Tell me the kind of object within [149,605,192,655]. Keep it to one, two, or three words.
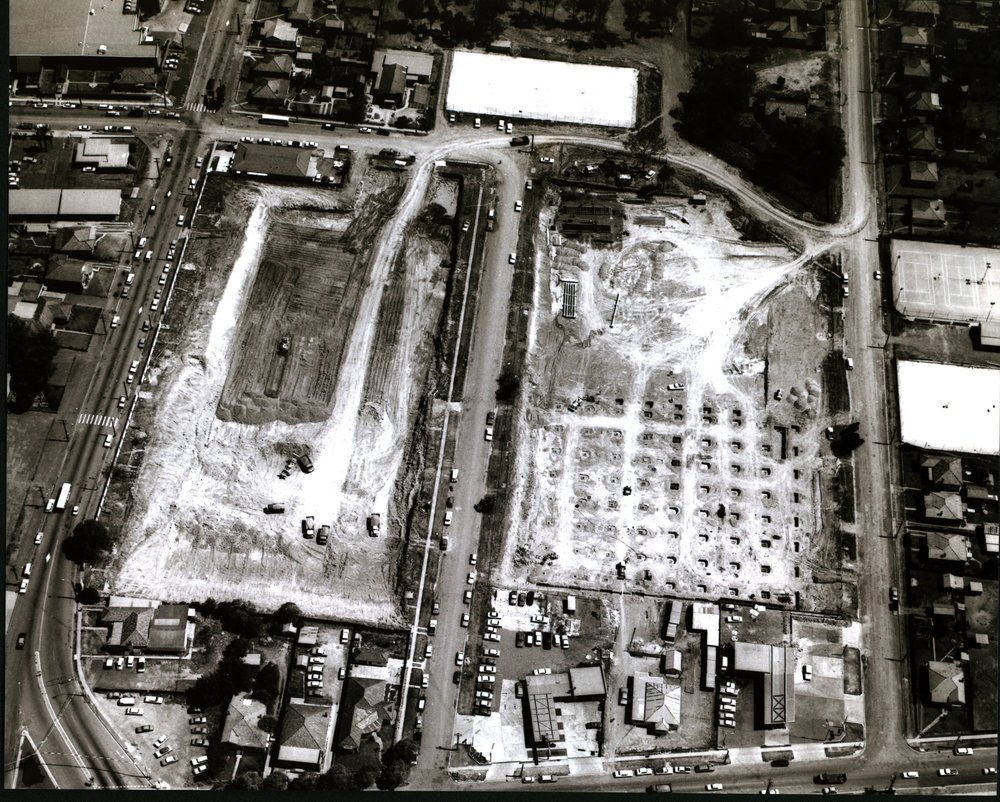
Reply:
building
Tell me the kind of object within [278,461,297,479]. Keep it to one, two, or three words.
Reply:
work vehicle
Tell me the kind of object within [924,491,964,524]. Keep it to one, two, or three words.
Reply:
house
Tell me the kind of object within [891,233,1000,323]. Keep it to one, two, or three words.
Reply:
tennis court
